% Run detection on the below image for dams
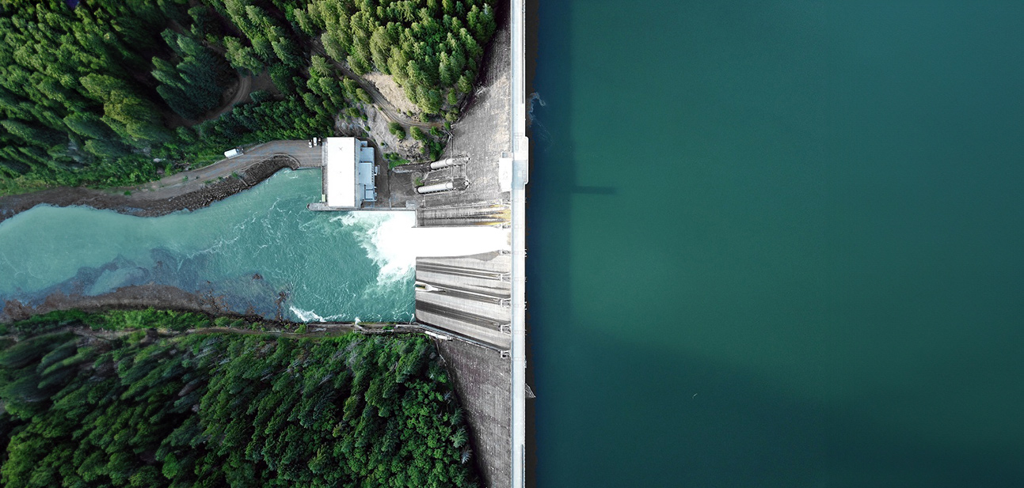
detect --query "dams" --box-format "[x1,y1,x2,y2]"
[409,0,540,488]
